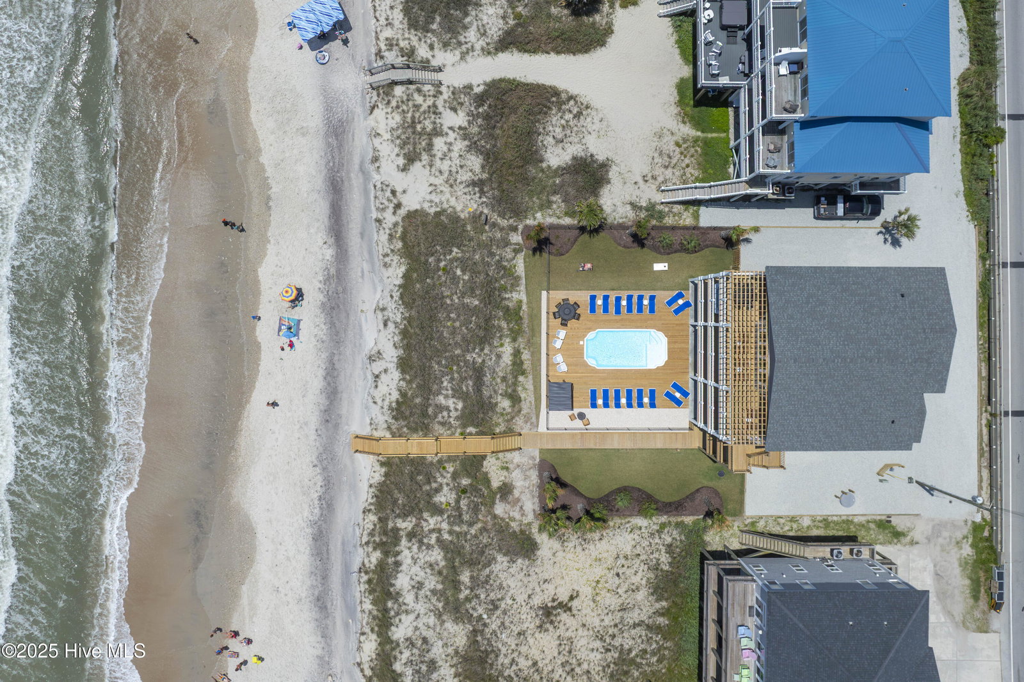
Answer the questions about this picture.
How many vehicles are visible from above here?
1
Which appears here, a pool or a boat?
pool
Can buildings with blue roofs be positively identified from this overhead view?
Yes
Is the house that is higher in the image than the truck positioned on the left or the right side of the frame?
right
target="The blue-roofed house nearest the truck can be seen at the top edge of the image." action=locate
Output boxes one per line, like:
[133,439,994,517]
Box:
[731,0,952,202]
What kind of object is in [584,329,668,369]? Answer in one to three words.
swimming pool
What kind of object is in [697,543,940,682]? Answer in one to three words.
house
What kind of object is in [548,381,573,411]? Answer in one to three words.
building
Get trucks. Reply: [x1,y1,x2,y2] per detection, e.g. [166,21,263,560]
[814,195,880,218]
